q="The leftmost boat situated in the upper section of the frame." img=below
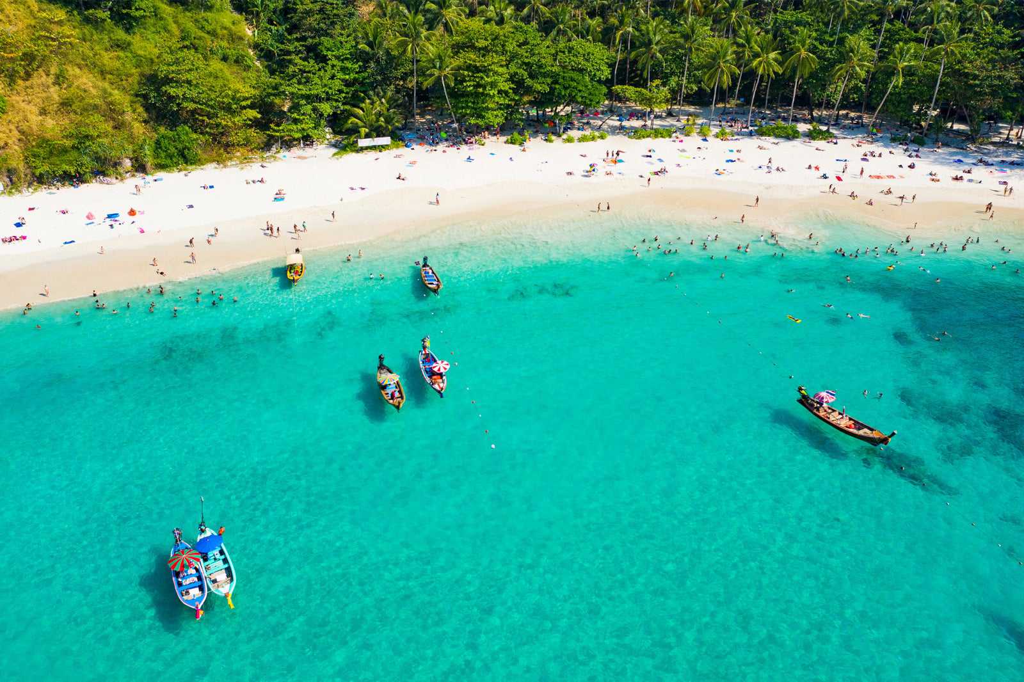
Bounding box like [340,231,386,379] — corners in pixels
[284,242,306,282]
